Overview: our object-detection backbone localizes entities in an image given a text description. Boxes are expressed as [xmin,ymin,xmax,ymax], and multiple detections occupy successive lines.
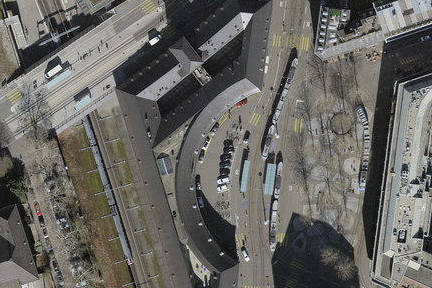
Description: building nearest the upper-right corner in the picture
[371,0,432,44]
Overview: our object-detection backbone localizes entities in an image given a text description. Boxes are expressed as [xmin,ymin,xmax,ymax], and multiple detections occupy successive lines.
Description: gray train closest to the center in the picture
[262,124,276,160]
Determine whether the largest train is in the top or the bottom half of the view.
bottom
